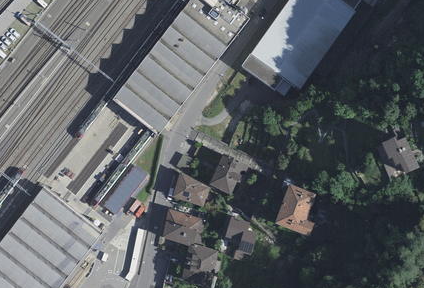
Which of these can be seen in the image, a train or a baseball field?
train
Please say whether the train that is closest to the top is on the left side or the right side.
left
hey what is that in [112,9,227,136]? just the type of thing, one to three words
building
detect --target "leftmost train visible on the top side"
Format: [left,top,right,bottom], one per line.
[76,84,116,138]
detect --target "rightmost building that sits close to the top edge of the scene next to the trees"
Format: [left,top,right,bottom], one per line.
[242,0,360,96]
